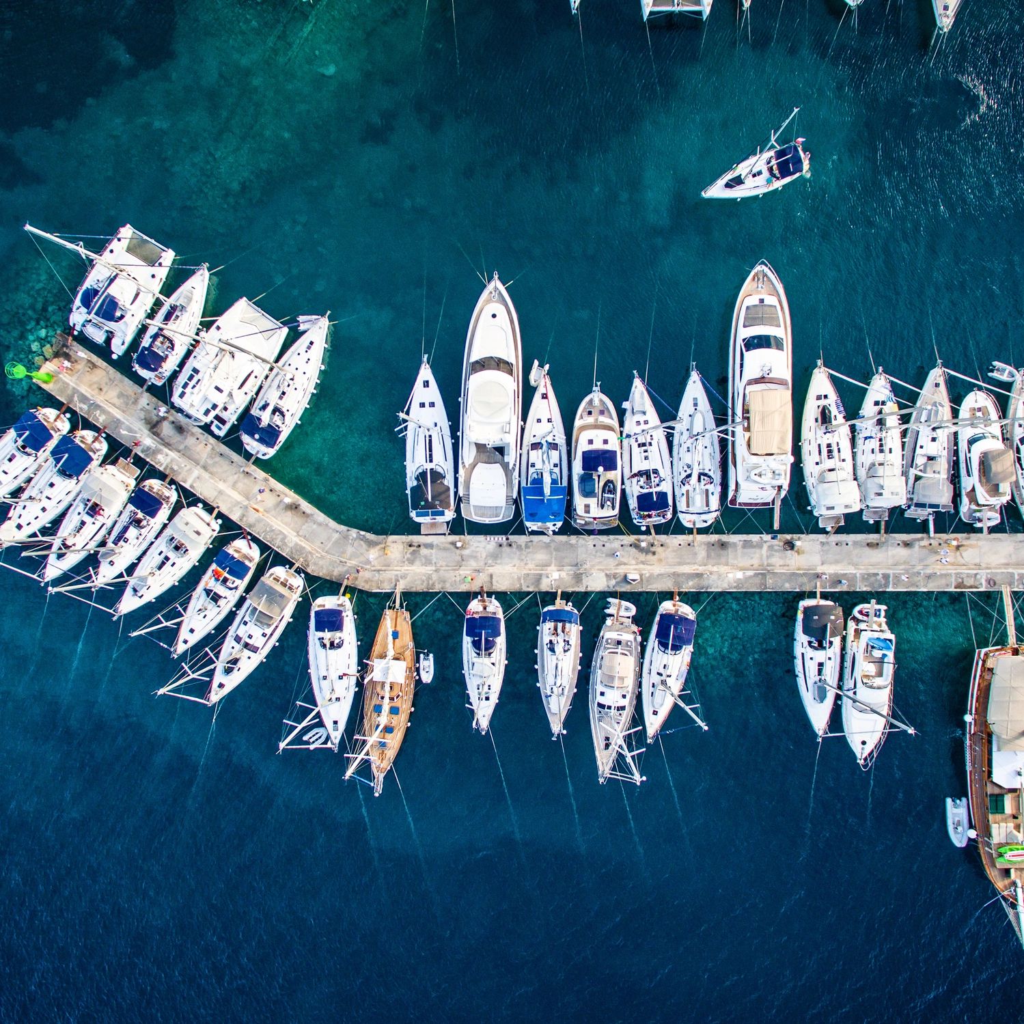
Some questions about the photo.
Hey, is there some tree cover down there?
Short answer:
No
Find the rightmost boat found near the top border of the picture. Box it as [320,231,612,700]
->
[923,0,962,62]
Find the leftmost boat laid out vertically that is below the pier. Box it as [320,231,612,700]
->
[278,576,363,755]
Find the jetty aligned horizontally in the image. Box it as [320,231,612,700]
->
[33,332,1024,591]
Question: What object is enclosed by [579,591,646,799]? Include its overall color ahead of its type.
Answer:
white boat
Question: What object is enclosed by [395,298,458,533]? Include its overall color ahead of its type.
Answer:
white boat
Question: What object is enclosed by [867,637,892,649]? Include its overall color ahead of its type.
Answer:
blue boat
